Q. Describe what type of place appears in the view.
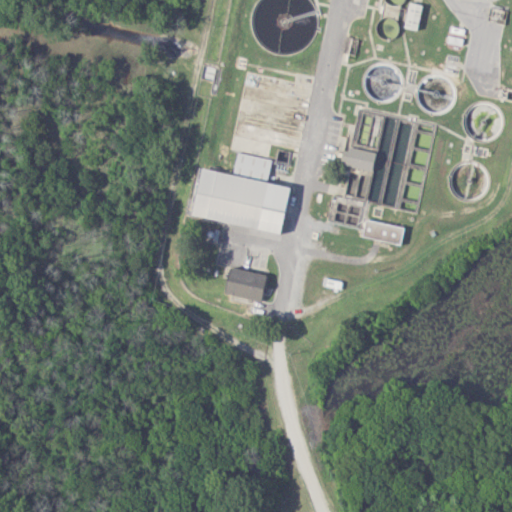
industrial area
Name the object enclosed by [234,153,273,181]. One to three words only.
building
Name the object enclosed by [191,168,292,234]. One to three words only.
building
